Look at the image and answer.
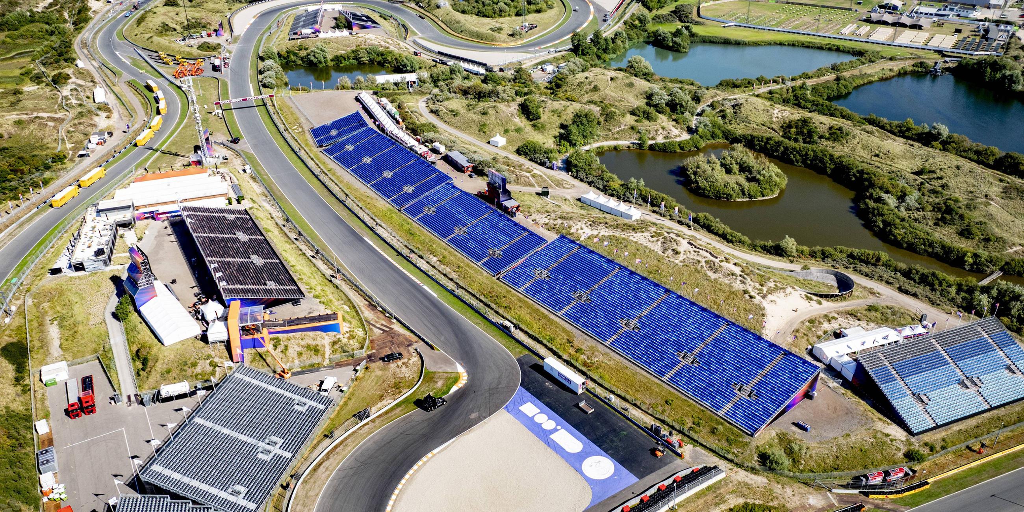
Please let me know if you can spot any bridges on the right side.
No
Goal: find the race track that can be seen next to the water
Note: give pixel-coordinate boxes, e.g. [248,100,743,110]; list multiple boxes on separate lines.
[229,0,590,512]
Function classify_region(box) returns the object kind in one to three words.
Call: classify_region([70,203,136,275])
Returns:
building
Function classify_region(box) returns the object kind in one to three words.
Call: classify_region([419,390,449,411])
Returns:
truck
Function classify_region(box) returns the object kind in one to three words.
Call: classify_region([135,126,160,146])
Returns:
vehicle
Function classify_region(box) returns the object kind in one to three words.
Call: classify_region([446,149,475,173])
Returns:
building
